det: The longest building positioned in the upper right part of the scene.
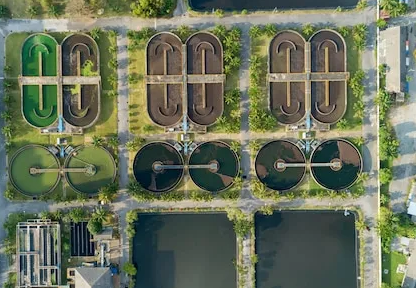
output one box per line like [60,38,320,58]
[377,26,403,94]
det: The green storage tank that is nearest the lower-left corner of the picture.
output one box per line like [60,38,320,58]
[9,145,61,197]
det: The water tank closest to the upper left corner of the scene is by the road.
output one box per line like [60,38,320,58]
[20,32,102,135]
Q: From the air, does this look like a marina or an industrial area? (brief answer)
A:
industrial area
